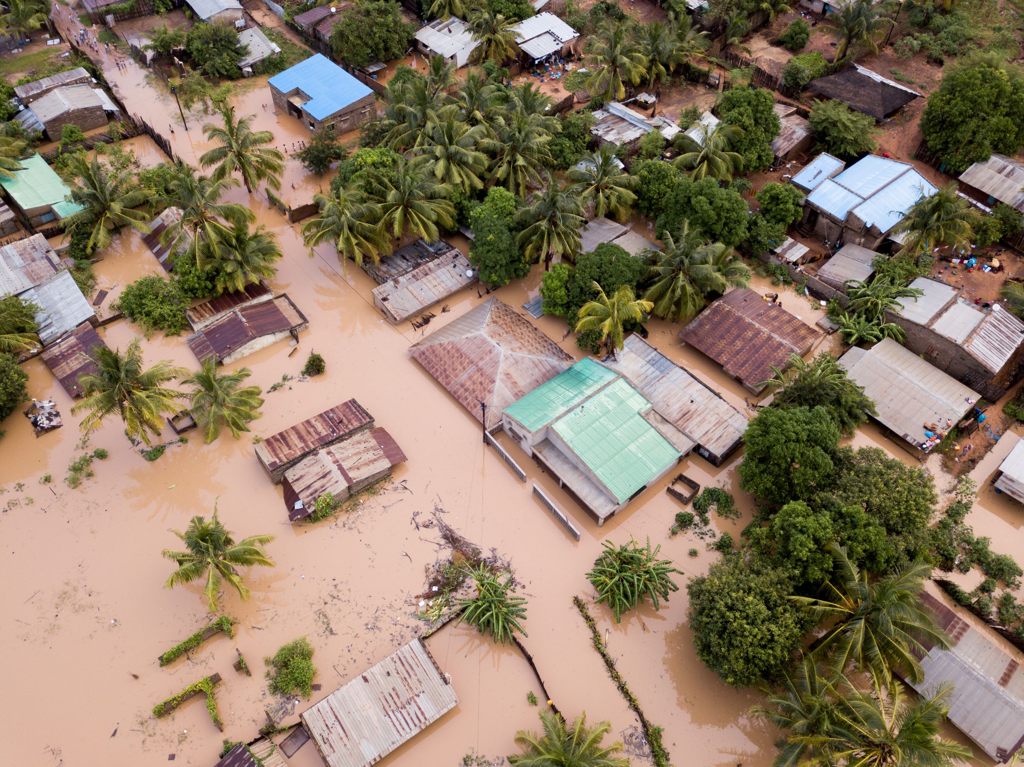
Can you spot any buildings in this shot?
Yes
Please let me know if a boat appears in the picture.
No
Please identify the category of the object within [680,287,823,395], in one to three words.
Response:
house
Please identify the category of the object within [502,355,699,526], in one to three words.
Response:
building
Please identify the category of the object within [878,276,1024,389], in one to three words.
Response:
house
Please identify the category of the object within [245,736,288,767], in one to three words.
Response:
shed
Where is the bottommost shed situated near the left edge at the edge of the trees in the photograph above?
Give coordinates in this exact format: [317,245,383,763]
[23,398,65,440]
